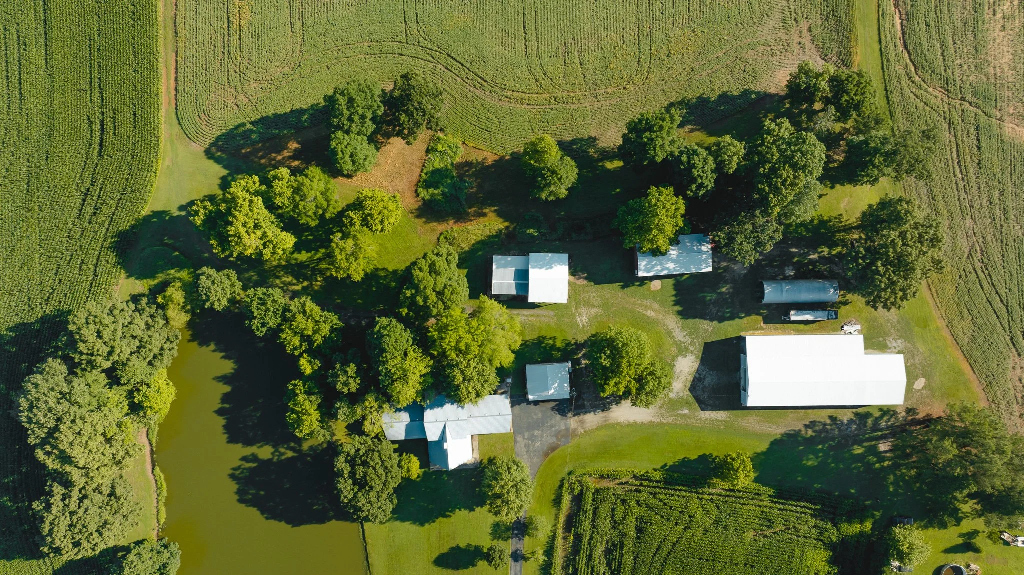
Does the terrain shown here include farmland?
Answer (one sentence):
Yes, farmland can be seen from above here.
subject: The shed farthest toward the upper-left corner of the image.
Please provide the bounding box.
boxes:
[493,255,528,294]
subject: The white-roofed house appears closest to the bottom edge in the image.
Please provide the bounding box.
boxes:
[384,393,512,471]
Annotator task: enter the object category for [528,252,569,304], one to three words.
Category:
barn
